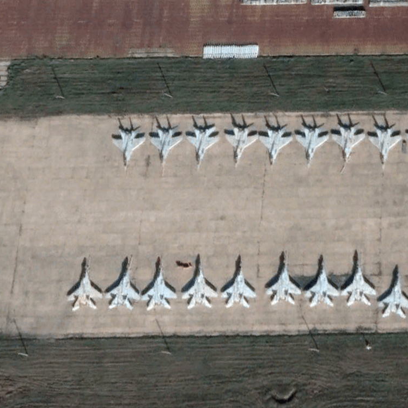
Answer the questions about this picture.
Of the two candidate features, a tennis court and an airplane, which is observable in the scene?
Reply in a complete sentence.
This aerial view contains an airplane.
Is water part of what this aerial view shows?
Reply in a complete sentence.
No, no water is visible.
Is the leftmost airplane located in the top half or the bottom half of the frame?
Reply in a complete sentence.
The bottom half of the photo is where the leftmost airplane is.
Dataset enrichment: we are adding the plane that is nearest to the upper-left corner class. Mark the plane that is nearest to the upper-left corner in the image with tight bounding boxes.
[113,126,145,176]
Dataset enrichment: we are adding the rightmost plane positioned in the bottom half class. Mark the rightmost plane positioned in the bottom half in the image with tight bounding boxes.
[379,269,408,321]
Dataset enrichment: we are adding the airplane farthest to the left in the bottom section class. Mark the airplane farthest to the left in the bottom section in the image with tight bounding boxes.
[68,258,103,312]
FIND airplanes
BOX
[305,255,340,308]
[107,260,140,313]
[183,257,217,311]
[226,121,258,174]
[142,260,177,312]
[368,123,402,174]
[113,126,145,176]
[341,256,376,308]
[296,122,328,173]
[333,121,365,172]
[259,123,292,174]
[68,258,103,312]
[150,126,182,177]
[186,124,219,174]
[379,269,408,321]
[267,255,301,307]
[222,256,256,311]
